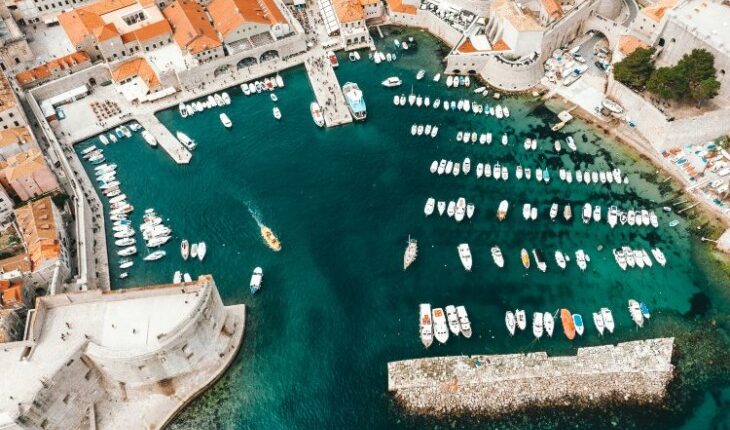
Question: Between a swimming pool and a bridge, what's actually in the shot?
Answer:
bridge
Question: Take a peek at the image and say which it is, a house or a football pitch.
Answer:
house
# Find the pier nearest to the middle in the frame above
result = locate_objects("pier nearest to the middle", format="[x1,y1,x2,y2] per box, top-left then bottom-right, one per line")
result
[304,56,353,129]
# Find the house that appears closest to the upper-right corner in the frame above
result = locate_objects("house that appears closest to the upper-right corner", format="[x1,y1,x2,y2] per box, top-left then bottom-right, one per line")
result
[635,0,681,43]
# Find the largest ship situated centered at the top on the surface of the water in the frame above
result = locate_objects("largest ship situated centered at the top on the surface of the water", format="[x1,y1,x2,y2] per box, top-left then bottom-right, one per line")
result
[344,77,368,123]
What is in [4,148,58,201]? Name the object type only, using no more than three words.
house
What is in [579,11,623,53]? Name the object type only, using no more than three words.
bridge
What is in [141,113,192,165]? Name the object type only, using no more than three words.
pier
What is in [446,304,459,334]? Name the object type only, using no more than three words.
boat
